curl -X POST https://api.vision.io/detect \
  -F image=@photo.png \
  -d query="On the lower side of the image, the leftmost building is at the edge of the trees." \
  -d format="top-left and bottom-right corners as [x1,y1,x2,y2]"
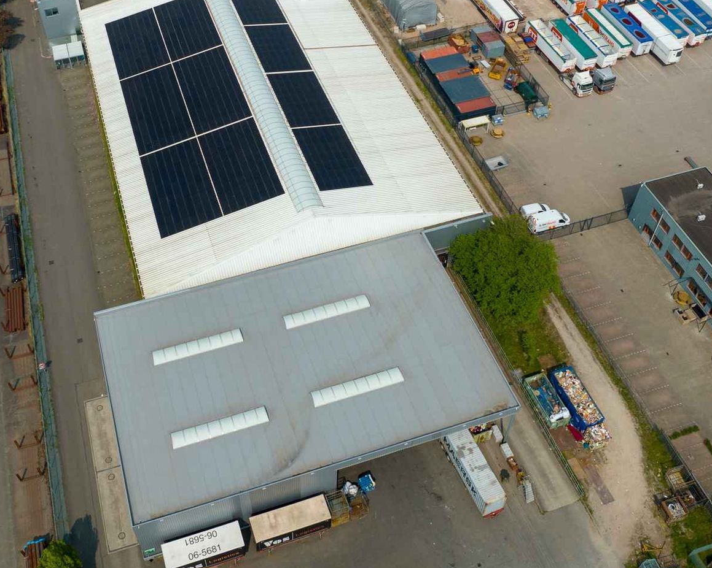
[96,228,545,553]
